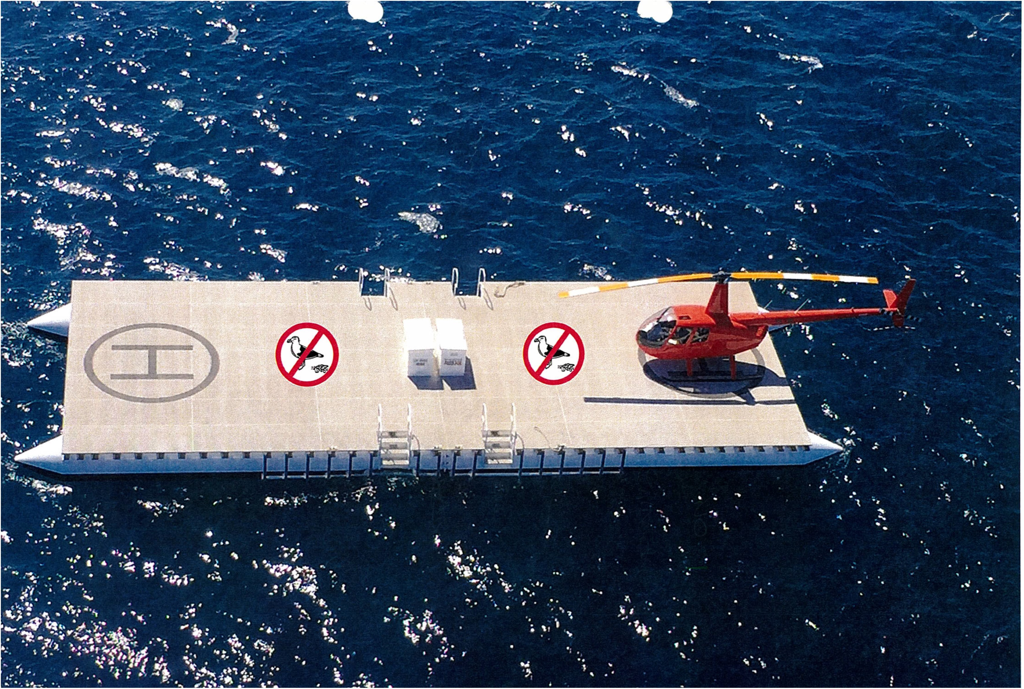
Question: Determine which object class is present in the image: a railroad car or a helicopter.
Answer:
helicopter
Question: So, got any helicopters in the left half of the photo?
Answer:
No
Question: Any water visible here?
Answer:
Yes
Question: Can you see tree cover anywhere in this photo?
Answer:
No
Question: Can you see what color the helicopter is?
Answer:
red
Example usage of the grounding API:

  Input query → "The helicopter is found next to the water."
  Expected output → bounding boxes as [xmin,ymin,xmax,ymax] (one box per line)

[559,272,922,383]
